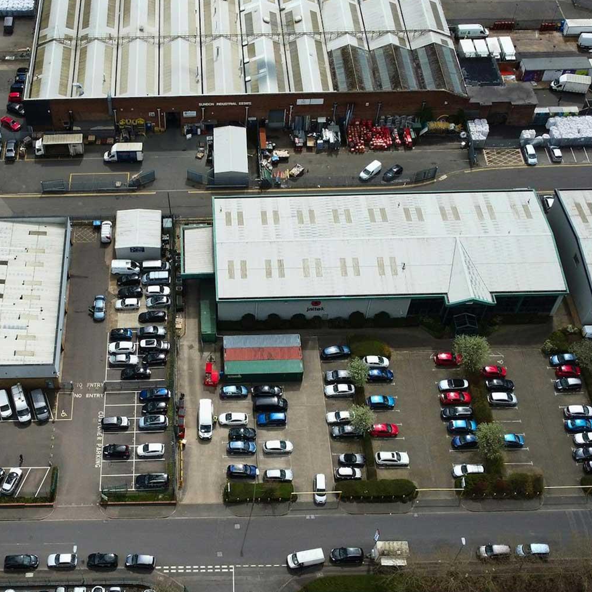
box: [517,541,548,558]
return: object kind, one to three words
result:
car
